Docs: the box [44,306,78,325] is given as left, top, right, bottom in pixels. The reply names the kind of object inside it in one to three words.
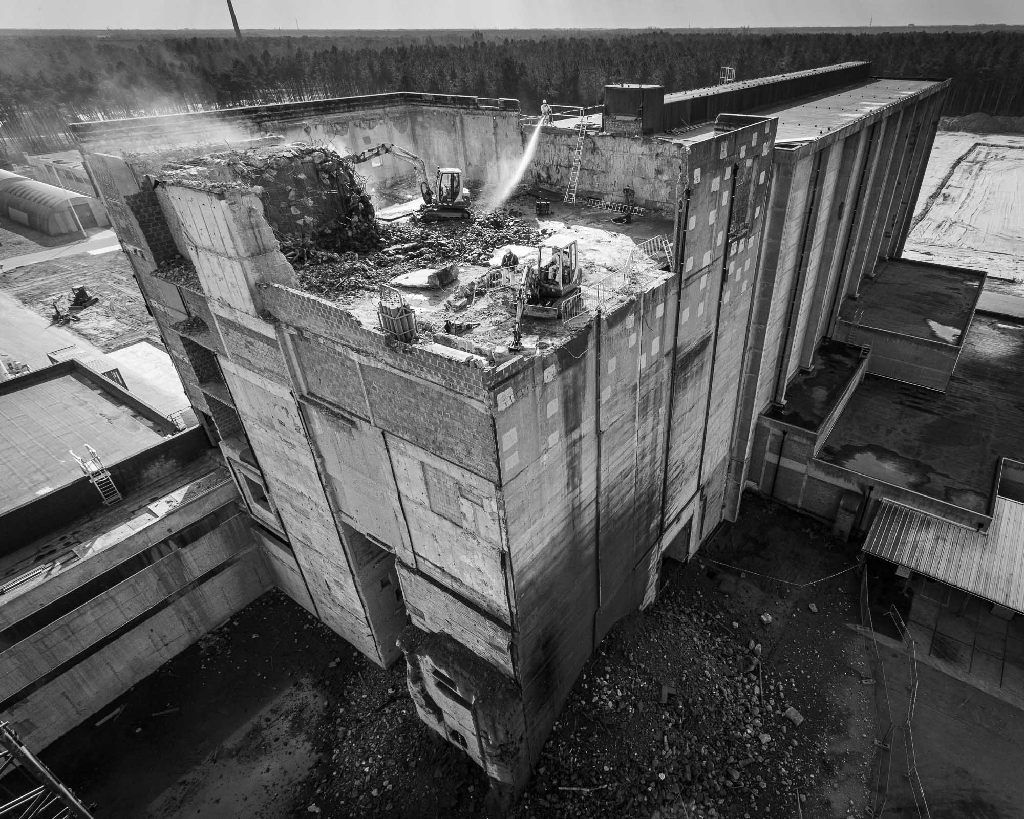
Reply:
work vehicle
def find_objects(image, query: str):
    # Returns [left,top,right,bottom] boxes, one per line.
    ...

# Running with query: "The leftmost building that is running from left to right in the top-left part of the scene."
[0,179,110,235]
